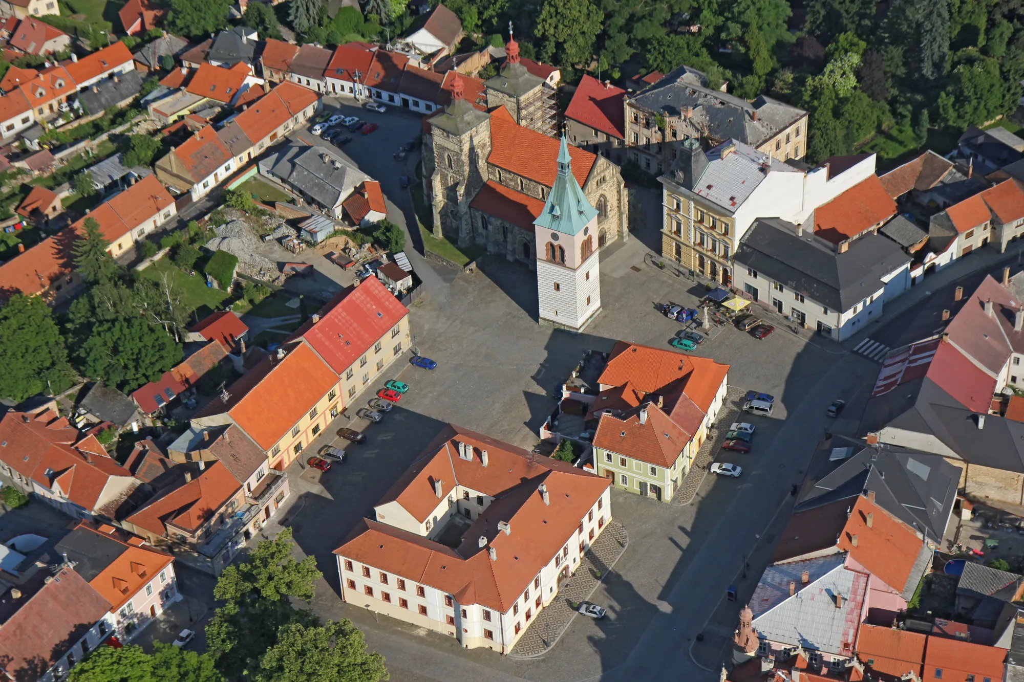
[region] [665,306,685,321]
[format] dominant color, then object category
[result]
gray car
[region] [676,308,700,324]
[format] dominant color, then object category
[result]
blue car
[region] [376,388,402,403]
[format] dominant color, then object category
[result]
red car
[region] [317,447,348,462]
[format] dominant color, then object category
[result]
gray car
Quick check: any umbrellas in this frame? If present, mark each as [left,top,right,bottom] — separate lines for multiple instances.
[703,288,733,309]
[719,296,753,318]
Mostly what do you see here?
buildings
